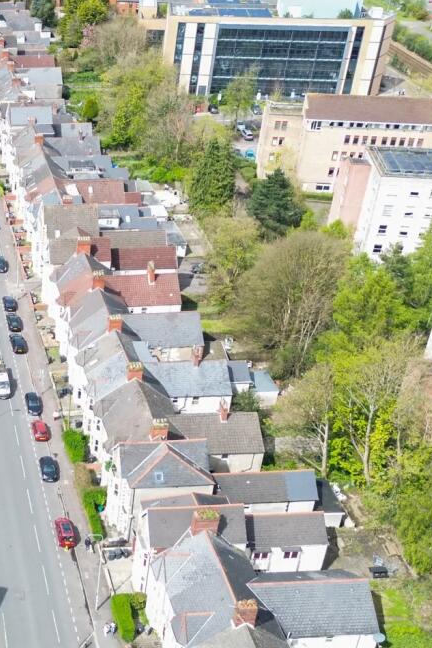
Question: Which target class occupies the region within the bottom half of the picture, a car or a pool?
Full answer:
The feature located within the bottom half of the picture is a car.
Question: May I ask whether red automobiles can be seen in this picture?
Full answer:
Yes, the picture does show a red automobile.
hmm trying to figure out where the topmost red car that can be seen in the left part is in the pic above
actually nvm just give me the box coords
[31,422,49,445]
